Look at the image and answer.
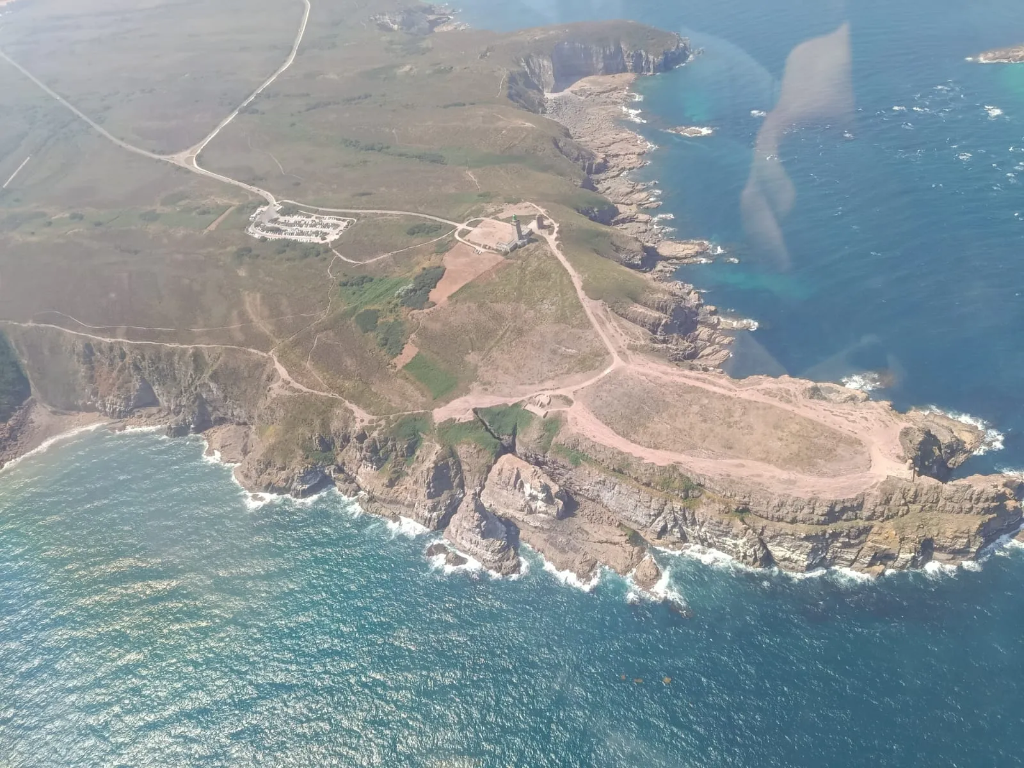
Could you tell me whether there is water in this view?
Yes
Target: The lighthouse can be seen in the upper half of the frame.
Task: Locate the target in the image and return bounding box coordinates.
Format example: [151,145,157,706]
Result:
[497,213,539,260]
